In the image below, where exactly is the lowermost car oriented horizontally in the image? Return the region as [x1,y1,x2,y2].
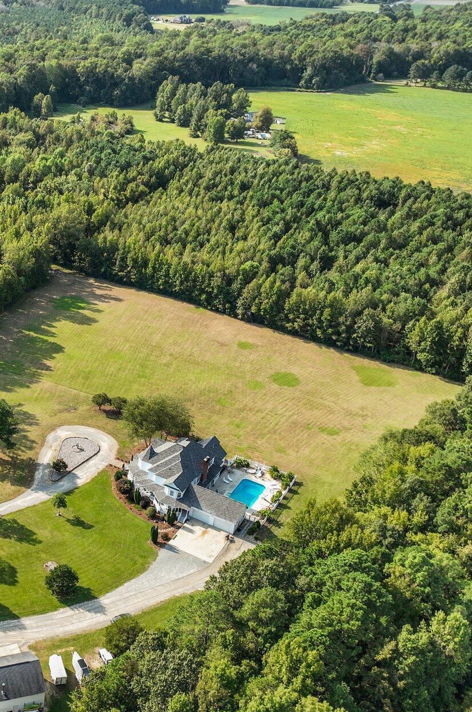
[109,609,135,625]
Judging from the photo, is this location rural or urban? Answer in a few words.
rural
